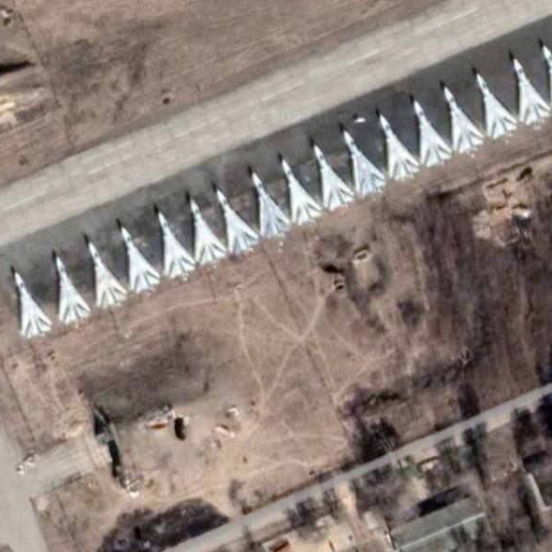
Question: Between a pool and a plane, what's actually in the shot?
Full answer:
Visible in the photo is a plane.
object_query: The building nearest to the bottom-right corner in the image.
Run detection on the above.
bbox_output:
[391,500,482,552]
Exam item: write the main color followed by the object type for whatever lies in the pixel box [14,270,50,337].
white airplane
